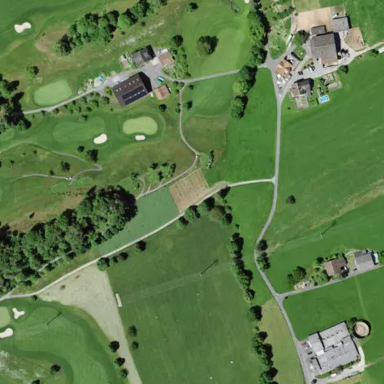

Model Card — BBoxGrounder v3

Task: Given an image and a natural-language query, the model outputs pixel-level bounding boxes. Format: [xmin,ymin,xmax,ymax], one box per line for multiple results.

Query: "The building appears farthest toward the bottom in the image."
[307,322,360,374]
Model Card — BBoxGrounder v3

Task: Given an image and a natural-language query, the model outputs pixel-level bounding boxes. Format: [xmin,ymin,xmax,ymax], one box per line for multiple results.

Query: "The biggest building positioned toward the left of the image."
[112,73,149,107]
